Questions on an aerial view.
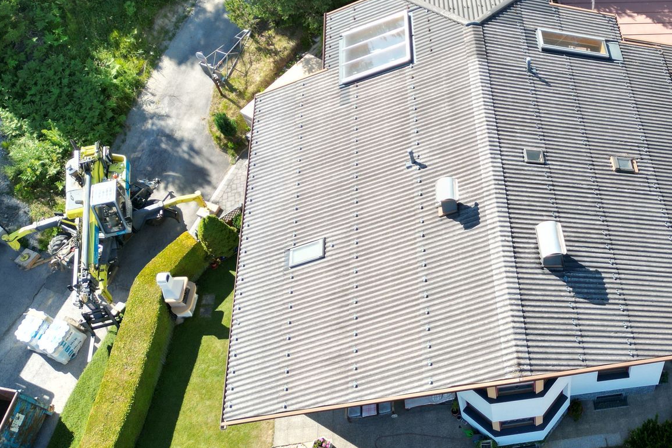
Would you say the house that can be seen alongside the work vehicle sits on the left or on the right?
right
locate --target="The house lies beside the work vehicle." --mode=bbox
[215,0,672,448]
